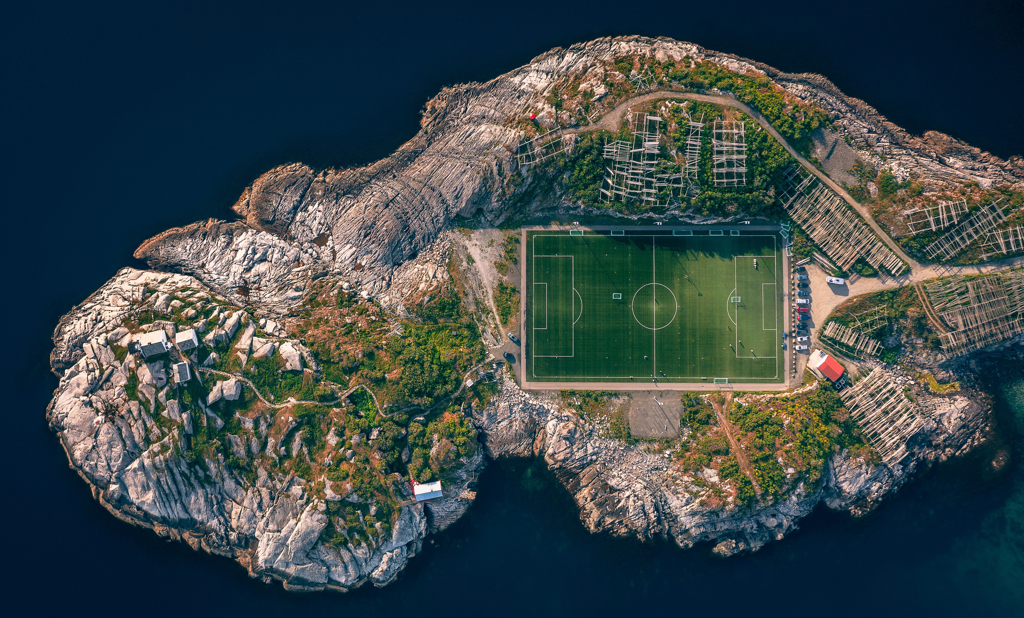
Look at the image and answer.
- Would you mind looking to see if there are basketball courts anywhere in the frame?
No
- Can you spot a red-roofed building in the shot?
Yes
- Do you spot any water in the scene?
Yes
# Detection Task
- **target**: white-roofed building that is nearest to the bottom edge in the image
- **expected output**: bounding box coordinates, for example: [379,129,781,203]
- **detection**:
[413,480,444,501]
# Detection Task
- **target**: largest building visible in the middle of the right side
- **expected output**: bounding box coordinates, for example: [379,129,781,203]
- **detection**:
[818,355,845,381]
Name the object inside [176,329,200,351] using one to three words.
house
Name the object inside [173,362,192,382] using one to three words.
shed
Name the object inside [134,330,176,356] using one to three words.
house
